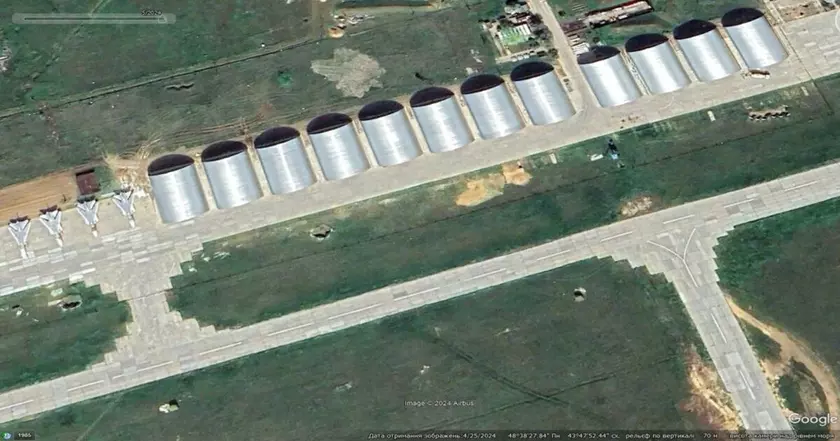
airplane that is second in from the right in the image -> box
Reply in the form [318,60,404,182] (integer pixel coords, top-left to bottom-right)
[77,196,99,237]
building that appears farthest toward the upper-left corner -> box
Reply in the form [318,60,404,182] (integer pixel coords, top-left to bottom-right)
[75,170,101,197]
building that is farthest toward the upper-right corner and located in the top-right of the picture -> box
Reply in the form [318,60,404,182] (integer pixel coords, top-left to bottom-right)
[722,15,789,70]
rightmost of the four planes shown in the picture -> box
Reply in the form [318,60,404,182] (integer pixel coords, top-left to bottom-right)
[112,188,134,229]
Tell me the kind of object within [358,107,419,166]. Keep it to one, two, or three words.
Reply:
hangar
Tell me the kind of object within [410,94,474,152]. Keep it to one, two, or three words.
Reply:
hangar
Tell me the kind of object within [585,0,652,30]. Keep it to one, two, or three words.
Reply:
shed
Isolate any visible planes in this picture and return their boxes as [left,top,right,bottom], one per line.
[112,188,134,229]
[8,219,30,260]
[77,196,99,237]
[41,207,63,248]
